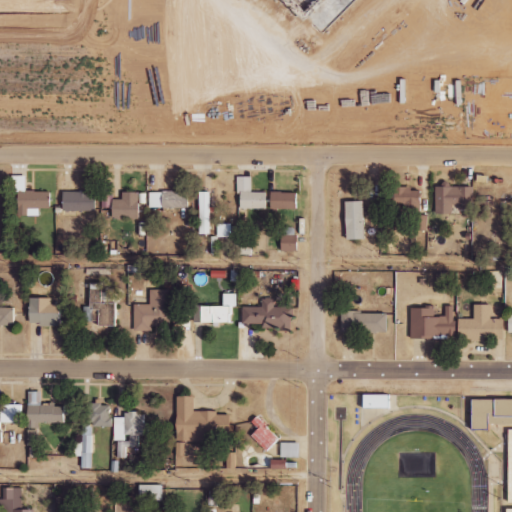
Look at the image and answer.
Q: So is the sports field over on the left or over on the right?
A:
right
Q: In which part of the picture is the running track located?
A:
bottom right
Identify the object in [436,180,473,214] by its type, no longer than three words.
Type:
house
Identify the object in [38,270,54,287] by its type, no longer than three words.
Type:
swimming pool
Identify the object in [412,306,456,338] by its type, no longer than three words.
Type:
house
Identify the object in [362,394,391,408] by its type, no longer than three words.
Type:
building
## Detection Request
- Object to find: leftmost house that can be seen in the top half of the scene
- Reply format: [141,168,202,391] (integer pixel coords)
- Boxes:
[14,175,50,220]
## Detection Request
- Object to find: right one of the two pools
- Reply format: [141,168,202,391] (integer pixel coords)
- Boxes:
[194,272,209,287]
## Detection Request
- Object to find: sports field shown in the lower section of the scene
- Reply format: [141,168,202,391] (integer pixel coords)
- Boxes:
[362,431,472,512]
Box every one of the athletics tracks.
[344,414,489,512]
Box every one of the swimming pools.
[38,270,54,287]
[194,272,209,287]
